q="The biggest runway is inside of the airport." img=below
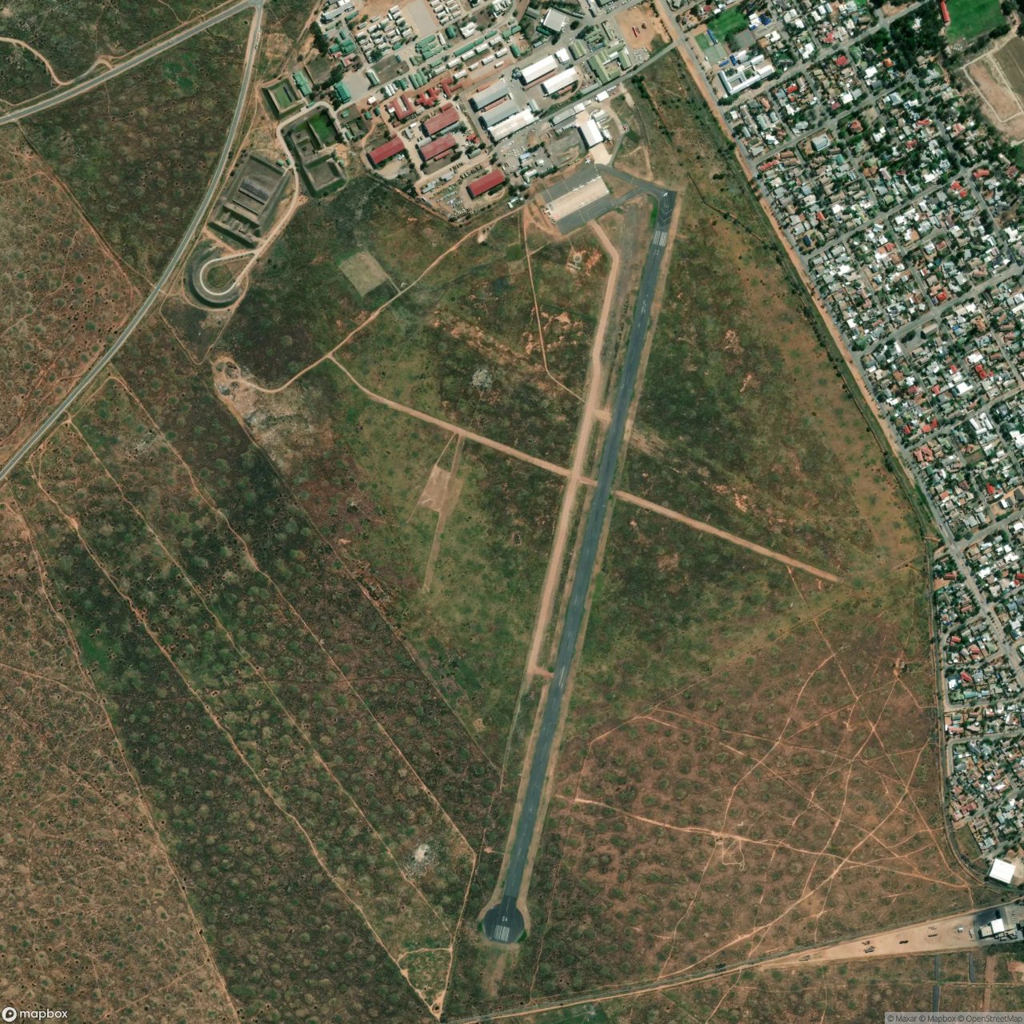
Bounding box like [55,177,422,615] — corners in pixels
[484,188,677,944]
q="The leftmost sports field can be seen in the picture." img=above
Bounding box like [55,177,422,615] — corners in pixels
[709,6,749,44]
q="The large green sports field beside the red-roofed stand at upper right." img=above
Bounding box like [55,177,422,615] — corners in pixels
[948,0,1005,46]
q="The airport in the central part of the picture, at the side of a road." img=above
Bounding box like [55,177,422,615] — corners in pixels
[327,111,838,993]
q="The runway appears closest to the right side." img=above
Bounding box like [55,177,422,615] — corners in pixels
[613,490,838,584]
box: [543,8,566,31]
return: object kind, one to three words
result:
building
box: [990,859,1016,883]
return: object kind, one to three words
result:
building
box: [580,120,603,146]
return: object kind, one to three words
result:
hangar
